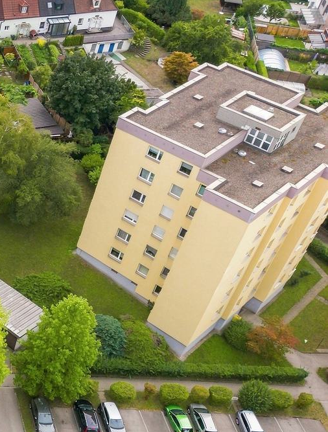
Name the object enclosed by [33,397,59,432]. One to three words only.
car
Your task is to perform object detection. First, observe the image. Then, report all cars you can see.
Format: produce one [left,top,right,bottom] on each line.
[74,397,102,432]
[190,400,222,432]
[167,402,198,432]
[240,408,270,432]
[33,397,59,432]
[97,399,127,432]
